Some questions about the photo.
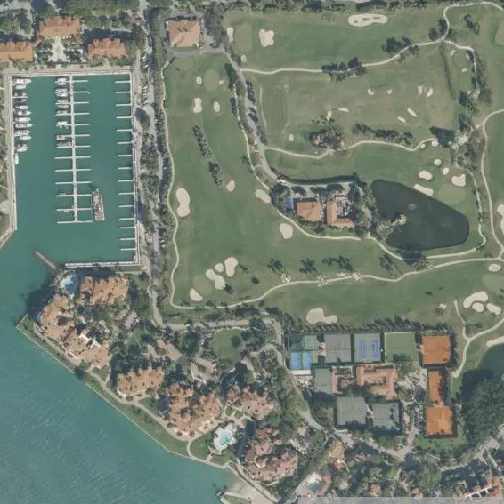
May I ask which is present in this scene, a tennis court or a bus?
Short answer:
tennis court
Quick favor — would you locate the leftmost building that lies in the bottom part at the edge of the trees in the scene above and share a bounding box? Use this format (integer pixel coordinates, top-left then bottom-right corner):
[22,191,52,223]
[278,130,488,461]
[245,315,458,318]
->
[37,290,76,343]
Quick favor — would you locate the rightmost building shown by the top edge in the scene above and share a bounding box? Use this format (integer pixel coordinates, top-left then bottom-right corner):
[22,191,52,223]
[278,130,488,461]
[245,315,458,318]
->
[167,19,201,46]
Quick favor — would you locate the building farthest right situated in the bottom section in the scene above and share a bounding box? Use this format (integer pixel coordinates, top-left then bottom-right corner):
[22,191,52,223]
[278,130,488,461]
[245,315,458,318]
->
[454,471,504,504]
